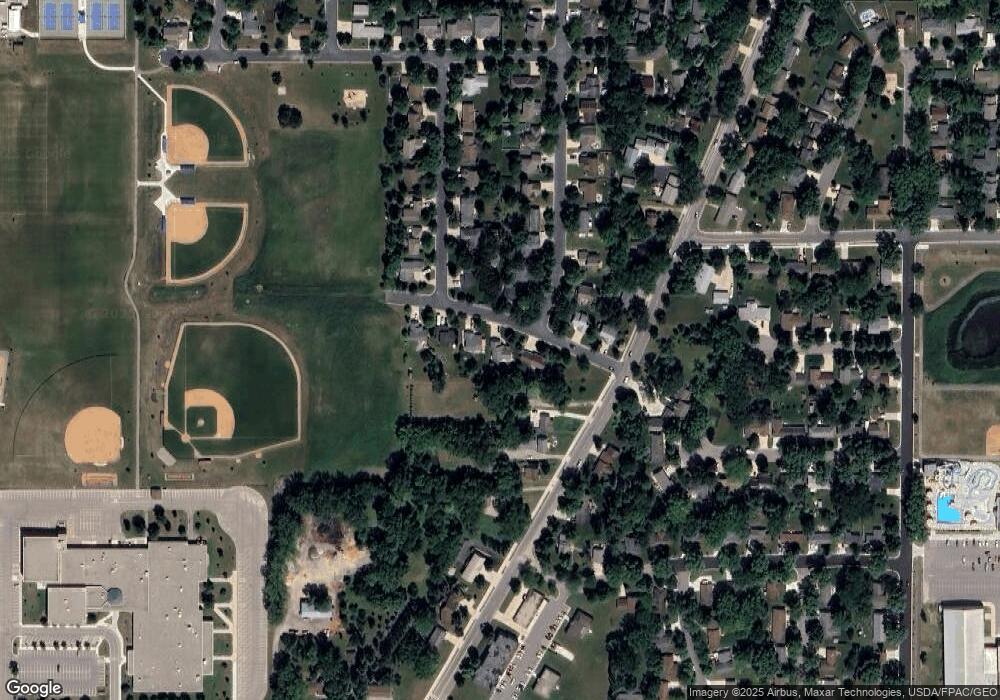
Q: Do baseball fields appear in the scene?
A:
Yes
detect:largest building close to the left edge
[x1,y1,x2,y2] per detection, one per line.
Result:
[21,534,213,693]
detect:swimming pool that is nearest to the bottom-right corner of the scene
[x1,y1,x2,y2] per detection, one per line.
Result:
[938,495,961,522]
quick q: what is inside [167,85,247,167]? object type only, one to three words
baseball field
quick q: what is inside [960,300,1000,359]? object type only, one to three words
pond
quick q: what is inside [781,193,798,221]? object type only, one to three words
house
